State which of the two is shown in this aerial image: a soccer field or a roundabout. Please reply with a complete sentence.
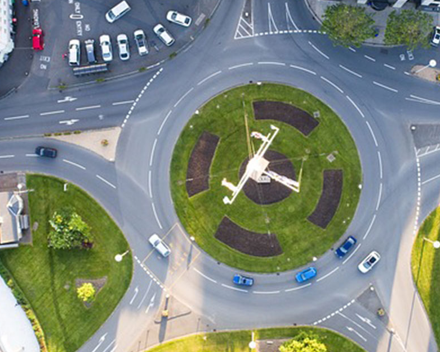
Looking from above, you can make out a roundabout.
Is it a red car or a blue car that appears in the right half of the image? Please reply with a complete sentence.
What appears in the right half of the image is a blue car.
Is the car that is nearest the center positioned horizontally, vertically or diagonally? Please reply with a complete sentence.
The car that is nearest the center is laid out diagonally.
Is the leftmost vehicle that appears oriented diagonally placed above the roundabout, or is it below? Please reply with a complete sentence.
In the image, the leftmost vehicle that appears oriented diagonally appears above the roundabout.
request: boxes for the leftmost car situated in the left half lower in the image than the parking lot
[34,145,58,158]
